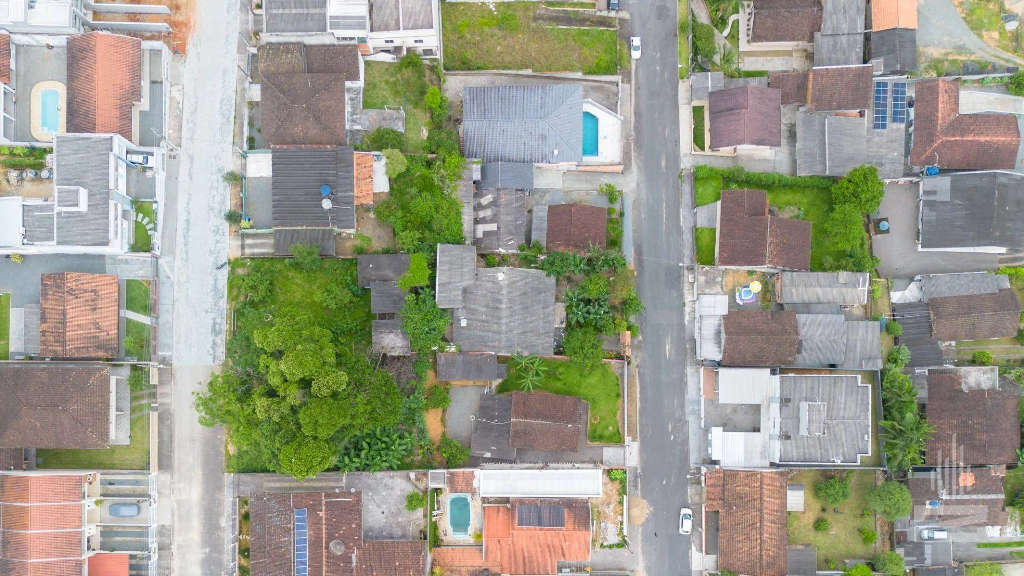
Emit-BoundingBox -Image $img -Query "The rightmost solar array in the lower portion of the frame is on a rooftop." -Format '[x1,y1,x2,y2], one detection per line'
[518,506,564,527]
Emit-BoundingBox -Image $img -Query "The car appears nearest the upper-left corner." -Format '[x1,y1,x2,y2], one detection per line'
[132,154,155,166]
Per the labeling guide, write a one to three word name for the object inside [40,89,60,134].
swimming pool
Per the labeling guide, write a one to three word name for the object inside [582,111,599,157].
swimming pool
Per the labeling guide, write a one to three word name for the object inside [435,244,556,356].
house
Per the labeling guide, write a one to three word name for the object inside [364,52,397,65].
shed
